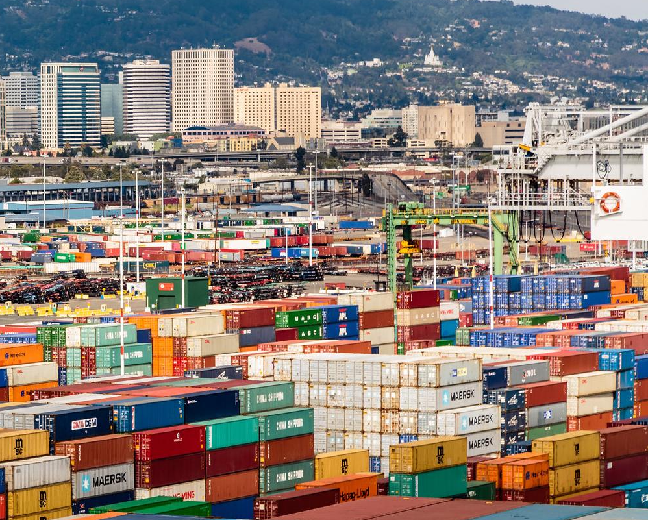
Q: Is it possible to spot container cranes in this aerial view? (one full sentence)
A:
Yes, the image includes a container crane.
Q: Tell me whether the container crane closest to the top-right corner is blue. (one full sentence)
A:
No, the container crane closest to the top-right corner is actually white.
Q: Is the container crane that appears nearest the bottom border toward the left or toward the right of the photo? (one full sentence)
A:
It is on the right.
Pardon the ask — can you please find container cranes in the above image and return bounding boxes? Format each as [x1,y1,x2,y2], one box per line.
[378,193,523,335]
[481,101,648,242]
